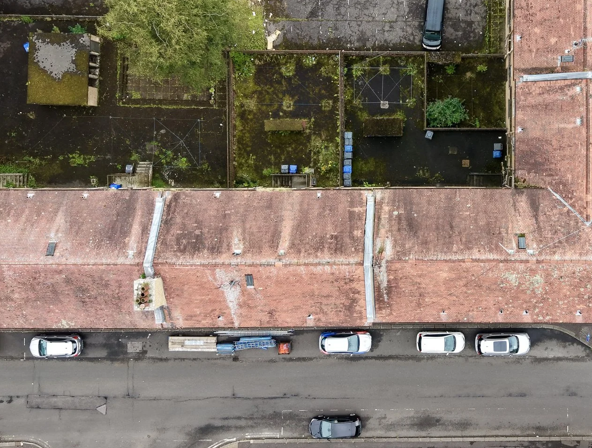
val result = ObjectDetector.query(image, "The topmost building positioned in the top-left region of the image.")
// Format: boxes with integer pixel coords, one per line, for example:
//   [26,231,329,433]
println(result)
[27,33,108,105]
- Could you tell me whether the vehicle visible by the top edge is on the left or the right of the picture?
right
